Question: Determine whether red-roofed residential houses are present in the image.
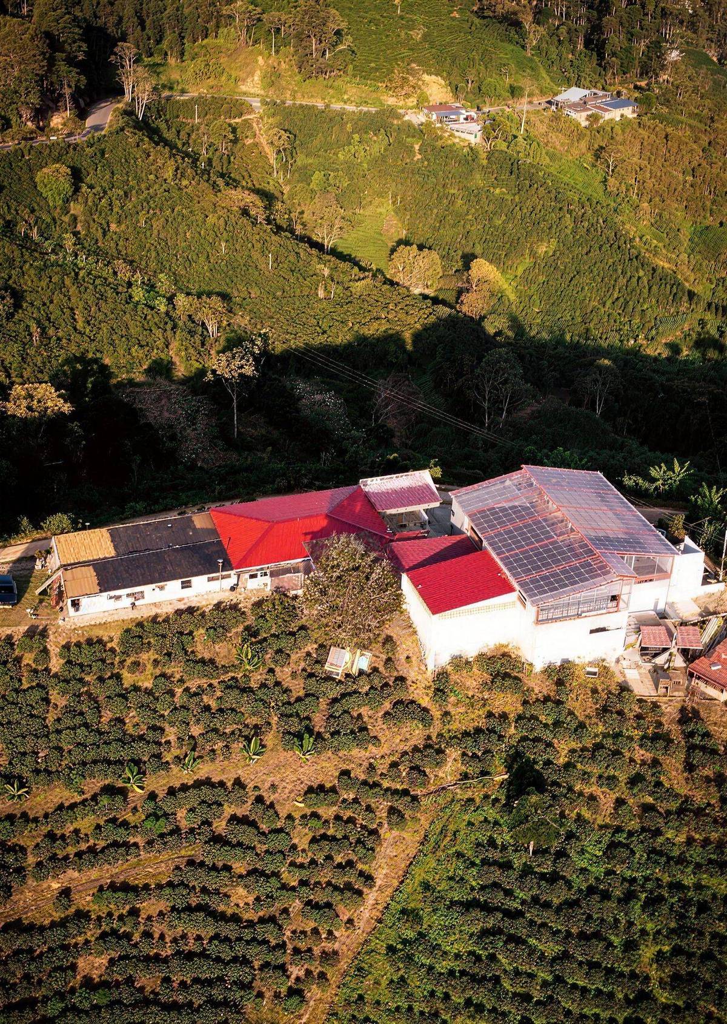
Yes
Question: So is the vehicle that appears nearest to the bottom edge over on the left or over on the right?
left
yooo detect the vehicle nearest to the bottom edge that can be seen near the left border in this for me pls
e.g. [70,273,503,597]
[0,566,20,605]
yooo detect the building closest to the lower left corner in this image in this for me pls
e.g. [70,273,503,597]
[50,511,231,617]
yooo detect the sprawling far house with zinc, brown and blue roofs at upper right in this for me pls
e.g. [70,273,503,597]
[552,86,638,122]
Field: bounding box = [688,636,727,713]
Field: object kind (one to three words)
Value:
house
